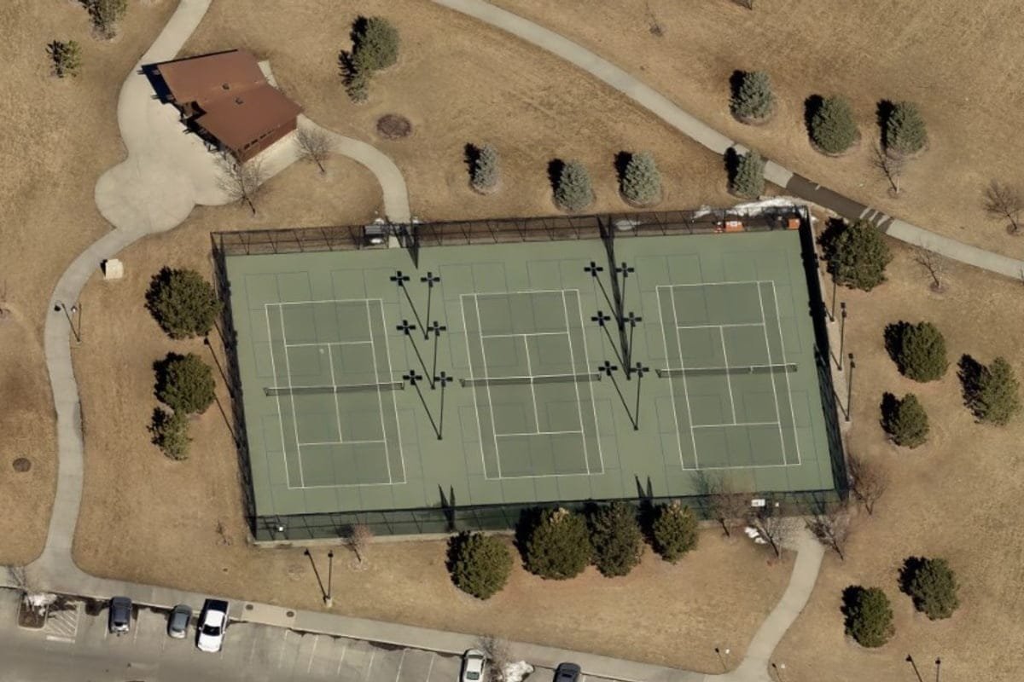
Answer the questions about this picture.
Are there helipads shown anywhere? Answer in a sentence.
No, I find no helipad anywhere in the image.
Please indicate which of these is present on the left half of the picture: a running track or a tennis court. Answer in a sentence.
You can see a tennis court on the left half of the picture.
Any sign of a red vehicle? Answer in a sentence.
No, no red vehicle is visible in the view.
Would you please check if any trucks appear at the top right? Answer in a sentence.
No, I can find no truck at the top right.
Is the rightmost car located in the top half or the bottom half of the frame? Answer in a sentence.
You can find the rightmost car in the bottom half.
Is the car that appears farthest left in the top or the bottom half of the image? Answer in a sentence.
It is in the bottom half that the car that appears farthest left appears.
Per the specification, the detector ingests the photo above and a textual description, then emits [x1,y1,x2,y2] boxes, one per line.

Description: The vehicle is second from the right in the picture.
[461,648,486,682]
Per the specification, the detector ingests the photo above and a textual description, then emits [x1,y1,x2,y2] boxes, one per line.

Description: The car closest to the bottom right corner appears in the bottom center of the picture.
[557,662,580,682]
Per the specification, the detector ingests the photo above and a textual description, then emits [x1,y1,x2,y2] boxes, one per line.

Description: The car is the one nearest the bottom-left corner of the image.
[106,594,133,635]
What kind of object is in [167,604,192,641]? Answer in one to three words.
car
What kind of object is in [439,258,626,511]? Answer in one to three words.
tennis court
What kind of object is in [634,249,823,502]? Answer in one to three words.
tennis court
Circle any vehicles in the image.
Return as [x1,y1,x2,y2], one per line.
[167,604,192,641]
[461,648,486,682]
[106,594,133,635]
[557,662,580,682]
[198,599,229,655]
